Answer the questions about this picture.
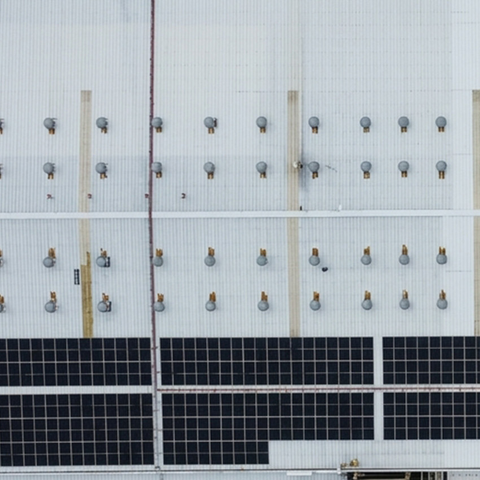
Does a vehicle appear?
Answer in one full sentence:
No, there's no vehicle here.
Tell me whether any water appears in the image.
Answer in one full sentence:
No, there is no water in the image.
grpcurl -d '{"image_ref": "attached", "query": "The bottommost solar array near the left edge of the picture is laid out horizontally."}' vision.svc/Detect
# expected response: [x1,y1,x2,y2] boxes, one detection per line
[0,393,155,466]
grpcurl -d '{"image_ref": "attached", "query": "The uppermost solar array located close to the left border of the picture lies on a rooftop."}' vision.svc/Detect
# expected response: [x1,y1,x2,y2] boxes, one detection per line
[0,338,153,386]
